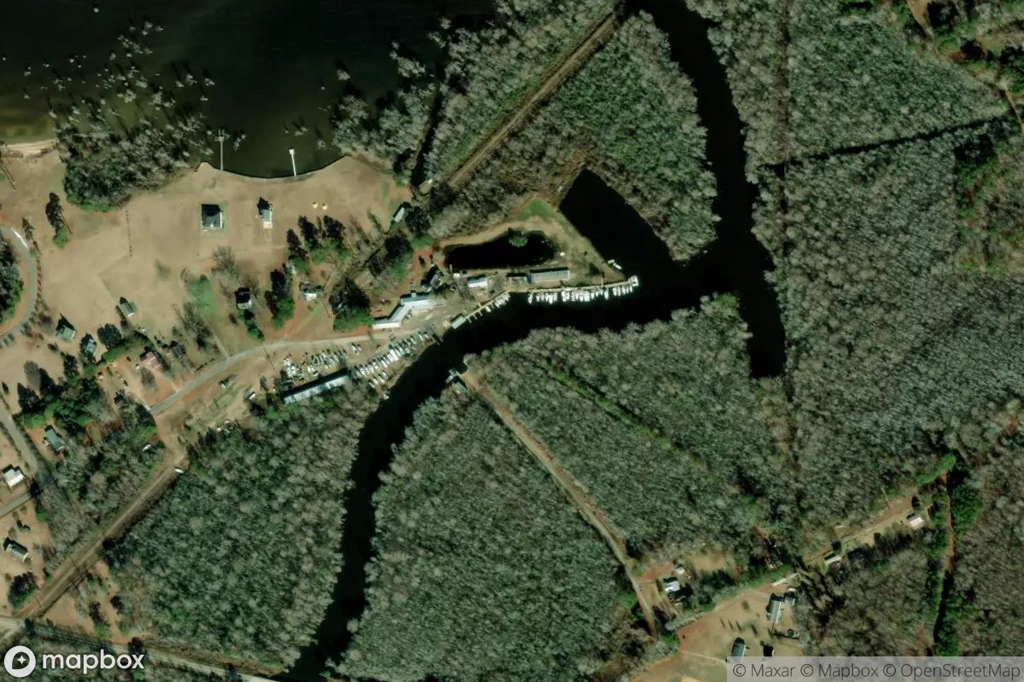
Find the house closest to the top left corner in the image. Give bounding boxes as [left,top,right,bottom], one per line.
[203,209,222,228]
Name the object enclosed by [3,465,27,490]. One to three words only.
house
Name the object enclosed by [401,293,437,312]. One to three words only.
building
